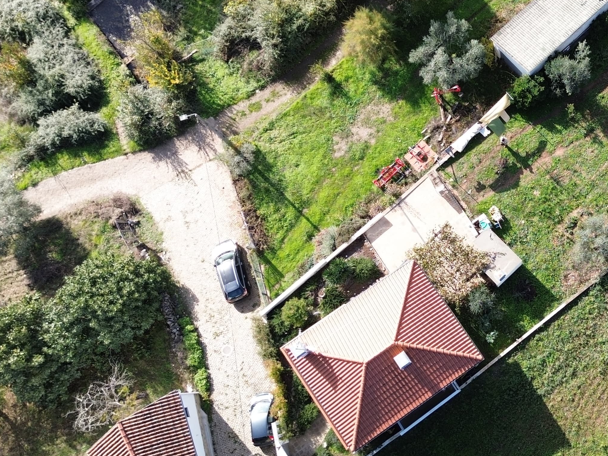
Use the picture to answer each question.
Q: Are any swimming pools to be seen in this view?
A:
No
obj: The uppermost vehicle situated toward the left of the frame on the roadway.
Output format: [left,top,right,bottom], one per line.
[211,238,251,306]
